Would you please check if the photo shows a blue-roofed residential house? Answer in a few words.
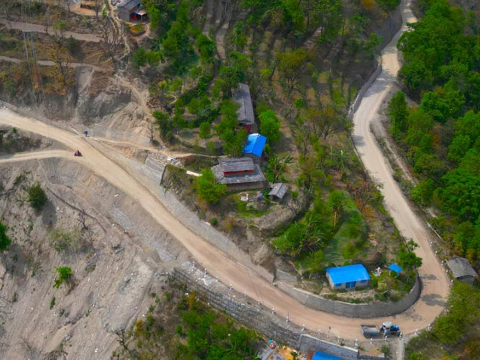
Yes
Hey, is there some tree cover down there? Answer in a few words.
Yes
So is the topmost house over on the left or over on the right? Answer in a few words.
left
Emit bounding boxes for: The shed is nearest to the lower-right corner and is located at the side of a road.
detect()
[447,254,479,283]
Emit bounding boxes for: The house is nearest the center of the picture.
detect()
[212,161,266,192]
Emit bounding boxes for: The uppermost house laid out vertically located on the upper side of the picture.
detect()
[238,84,255,135]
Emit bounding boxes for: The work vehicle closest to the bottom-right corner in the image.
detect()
[383,321,403,336]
